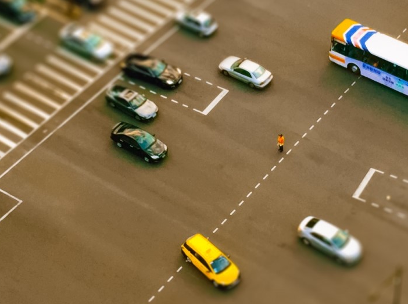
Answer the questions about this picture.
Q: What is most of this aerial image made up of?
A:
paved ground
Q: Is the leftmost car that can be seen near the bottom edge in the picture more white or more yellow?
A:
yellow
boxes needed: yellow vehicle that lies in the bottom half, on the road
[179,226,244,290]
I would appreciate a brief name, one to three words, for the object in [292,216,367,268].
car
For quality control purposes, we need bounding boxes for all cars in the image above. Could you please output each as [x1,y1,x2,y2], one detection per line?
[55,26,117,63]
[292,216,367,268]
[74,0,107,10]
[105,123,171,168]
[179,226,244,290]
[214,56,277,95]
[120,54,184,94]
[0,48,16,78]
[0,0,39,25]
[166,8,225,44]
[99,84,164,127]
